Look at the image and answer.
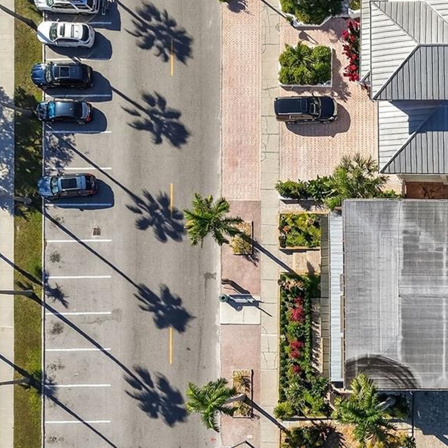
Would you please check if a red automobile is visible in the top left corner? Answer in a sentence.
No, no red automobile appears in the top left corner.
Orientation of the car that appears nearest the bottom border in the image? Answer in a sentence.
The car that appears nearest the bottom border runs from left to right in the image.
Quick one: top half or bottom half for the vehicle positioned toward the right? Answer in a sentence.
You can find the vehicle positioned toward the right in the top half.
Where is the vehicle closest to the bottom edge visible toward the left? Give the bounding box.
[37,171,100,200]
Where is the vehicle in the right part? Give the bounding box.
[272,94,337,125]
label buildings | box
[360,0,448,188]
[318,197,448,393]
